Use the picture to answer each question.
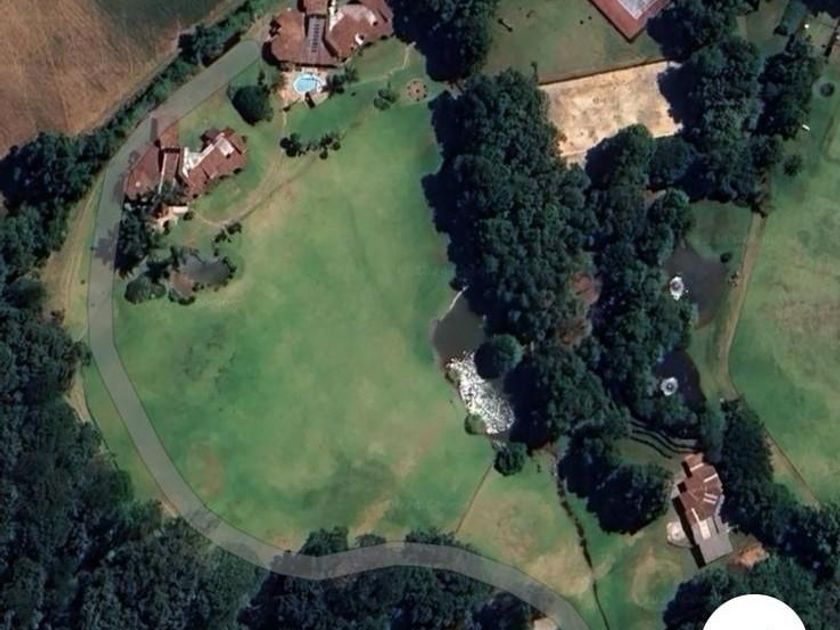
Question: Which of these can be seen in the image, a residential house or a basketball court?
residential house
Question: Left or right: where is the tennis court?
right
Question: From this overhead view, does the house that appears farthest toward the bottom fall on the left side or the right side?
right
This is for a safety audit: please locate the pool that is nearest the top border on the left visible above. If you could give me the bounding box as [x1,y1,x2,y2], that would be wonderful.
[279,66,330,109]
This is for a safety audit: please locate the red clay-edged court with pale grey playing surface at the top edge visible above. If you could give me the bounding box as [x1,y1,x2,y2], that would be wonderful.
[590,0,670,42]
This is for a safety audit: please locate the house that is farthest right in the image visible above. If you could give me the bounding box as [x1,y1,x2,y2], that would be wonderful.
[667,452,733,565]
